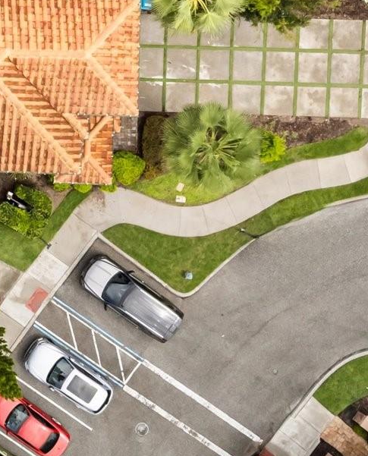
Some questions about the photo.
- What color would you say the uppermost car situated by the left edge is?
white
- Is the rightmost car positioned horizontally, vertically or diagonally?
diagonally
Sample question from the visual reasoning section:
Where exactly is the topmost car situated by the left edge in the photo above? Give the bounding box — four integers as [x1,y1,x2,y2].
[17,329,114,417]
